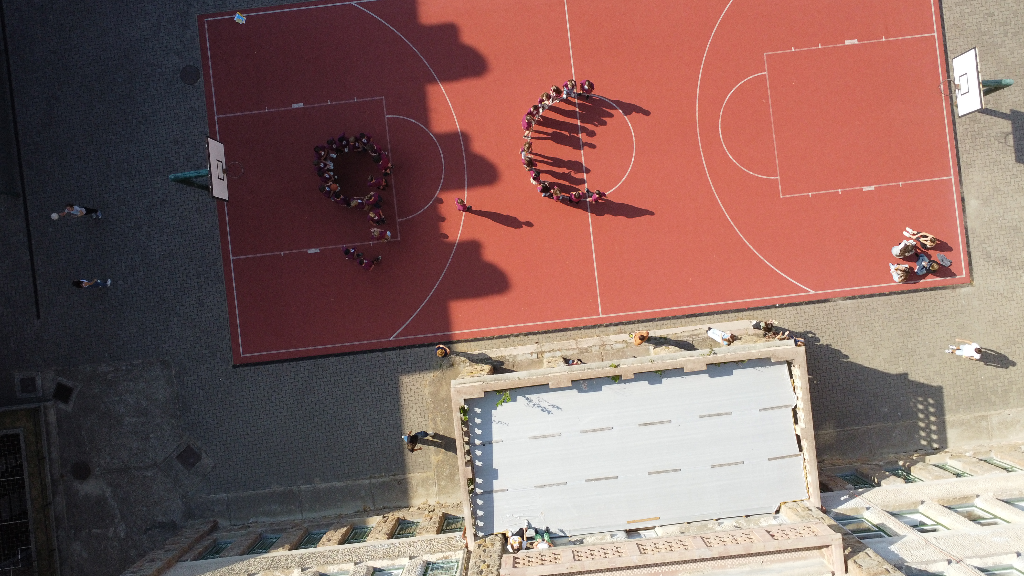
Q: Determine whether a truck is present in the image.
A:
No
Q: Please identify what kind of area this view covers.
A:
sports ground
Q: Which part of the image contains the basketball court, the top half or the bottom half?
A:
top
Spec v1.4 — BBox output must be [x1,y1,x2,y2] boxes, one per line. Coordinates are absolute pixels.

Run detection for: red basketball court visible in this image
[197,0,970,364]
